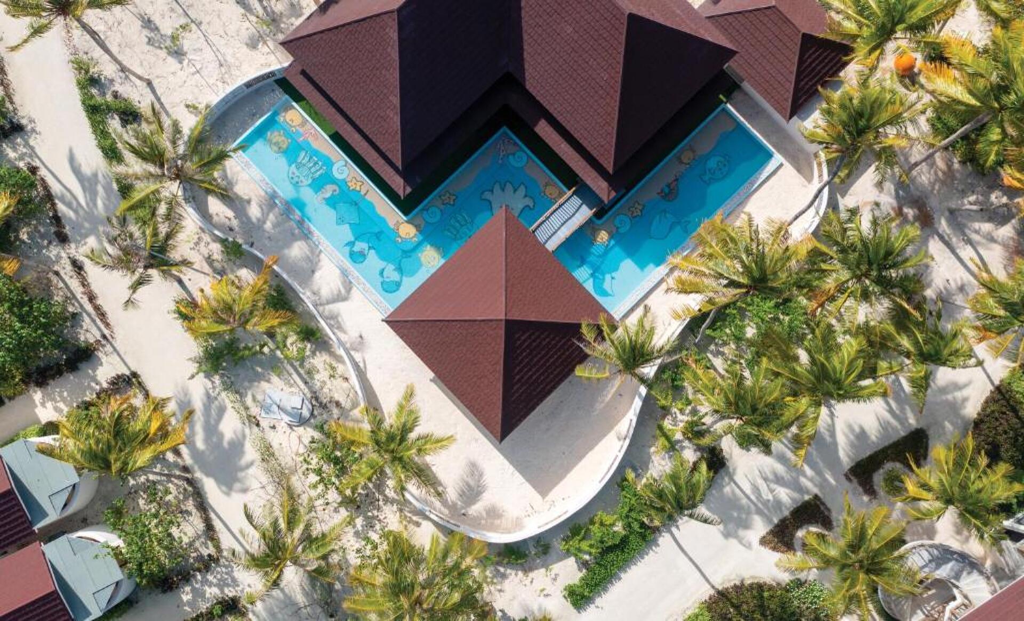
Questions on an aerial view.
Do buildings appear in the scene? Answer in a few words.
Yes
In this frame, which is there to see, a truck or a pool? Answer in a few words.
pool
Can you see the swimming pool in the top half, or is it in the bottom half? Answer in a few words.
top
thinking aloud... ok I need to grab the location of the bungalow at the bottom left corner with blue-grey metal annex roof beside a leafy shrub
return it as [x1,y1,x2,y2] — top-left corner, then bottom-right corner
[0,521,149,621]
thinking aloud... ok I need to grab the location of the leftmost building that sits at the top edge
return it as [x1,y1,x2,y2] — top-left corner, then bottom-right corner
[276,0,740,208]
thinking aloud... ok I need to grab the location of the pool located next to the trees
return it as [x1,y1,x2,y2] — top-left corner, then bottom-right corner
[234,98,782,323]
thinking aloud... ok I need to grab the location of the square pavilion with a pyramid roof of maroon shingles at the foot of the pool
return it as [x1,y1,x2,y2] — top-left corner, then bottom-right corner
[384,206,616,440]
